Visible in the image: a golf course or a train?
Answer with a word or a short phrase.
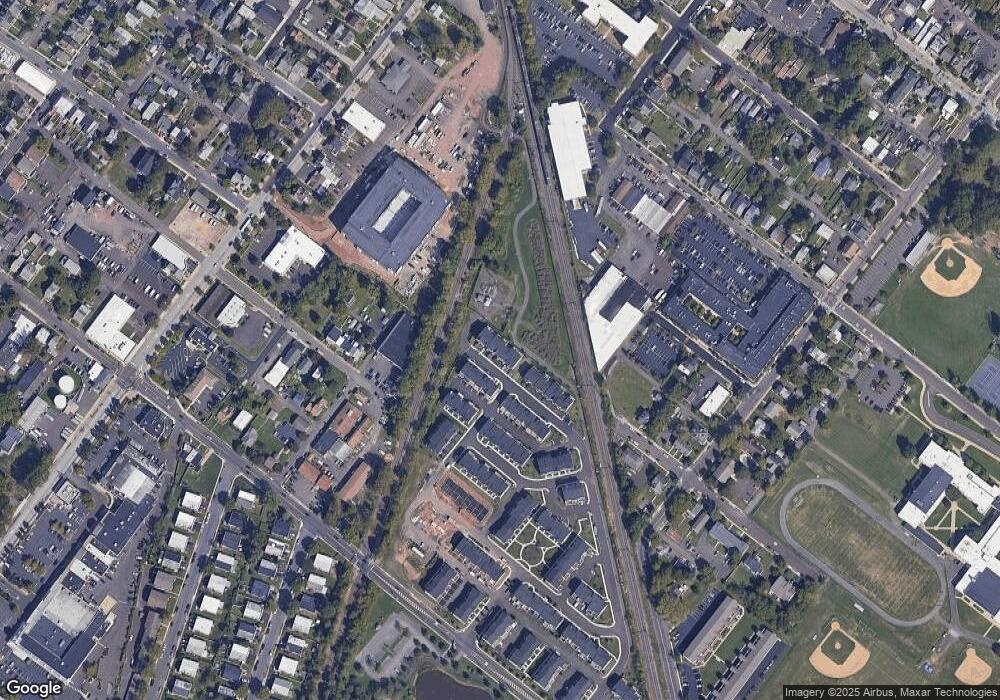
train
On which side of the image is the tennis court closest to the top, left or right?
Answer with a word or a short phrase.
right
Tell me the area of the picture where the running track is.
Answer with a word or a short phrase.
bottom right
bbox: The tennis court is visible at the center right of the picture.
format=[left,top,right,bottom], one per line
[967,355,1000,407]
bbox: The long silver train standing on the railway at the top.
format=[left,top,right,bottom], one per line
[510,6,551,185]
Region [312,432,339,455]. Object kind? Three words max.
building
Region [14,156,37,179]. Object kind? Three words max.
house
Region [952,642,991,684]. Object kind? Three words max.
baseball field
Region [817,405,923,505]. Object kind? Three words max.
sports field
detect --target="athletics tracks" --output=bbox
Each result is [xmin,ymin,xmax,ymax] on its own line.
[779,478,947,626]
